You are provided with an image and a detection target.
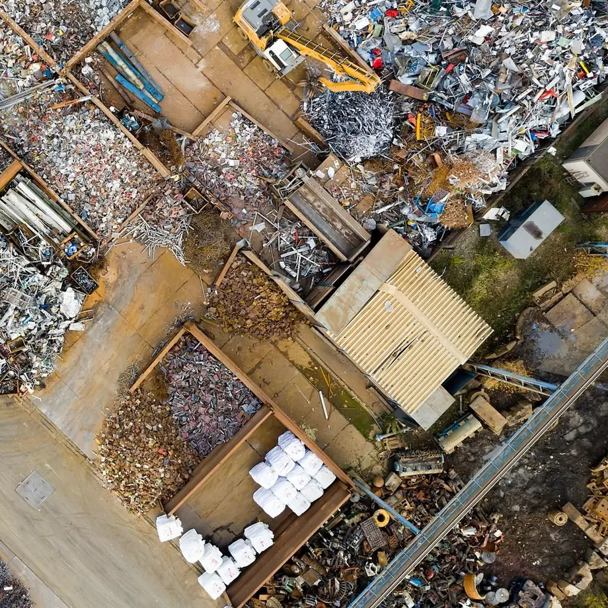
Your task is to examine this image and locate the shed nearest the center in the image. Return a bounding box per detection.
[312,228,494,429]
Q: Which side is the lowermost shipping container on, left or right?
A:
right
